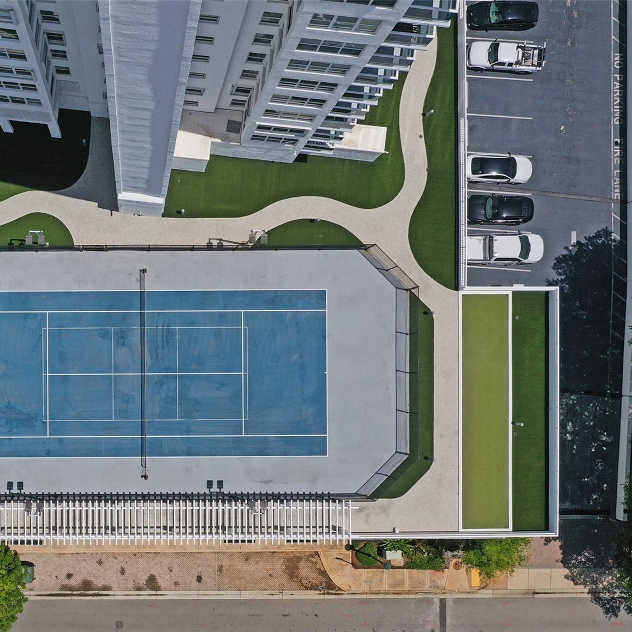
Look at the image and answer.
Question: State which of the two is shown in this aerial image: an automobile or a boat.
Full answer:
This aerial view contains an automobile.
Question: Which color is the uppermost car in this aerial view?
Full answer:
The uppermost car is black.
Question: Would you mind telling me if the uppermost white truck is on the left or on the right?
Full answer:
It is on the right.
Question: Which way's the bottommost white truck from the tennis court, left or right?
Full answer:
Relative to the tennis court, the bottommost white truck is on the right.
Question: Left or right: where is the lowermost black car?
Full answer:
You can find the lowermost black car on the right side of the picture.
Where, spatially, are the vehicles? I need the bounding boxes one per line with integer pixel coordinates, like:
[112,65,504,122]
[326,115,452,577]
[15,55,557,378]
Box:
[467,152,533,184]
[467,192,534,226]
[467,0,537,34]
[467,36,550,74]
[467,230,545,266]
